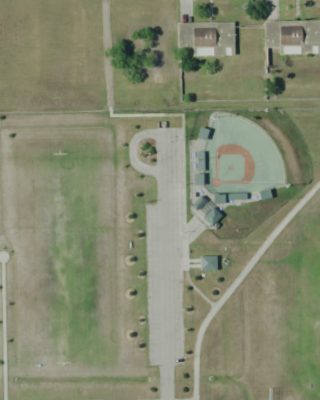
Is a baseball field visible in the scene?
Yes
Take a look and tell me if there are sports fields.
Yes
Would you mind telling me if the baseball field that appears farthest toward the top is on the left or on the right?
right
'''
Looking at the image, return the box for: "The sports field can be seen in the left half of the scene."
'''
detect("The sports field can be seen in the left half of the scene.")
[18,142,106,371]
